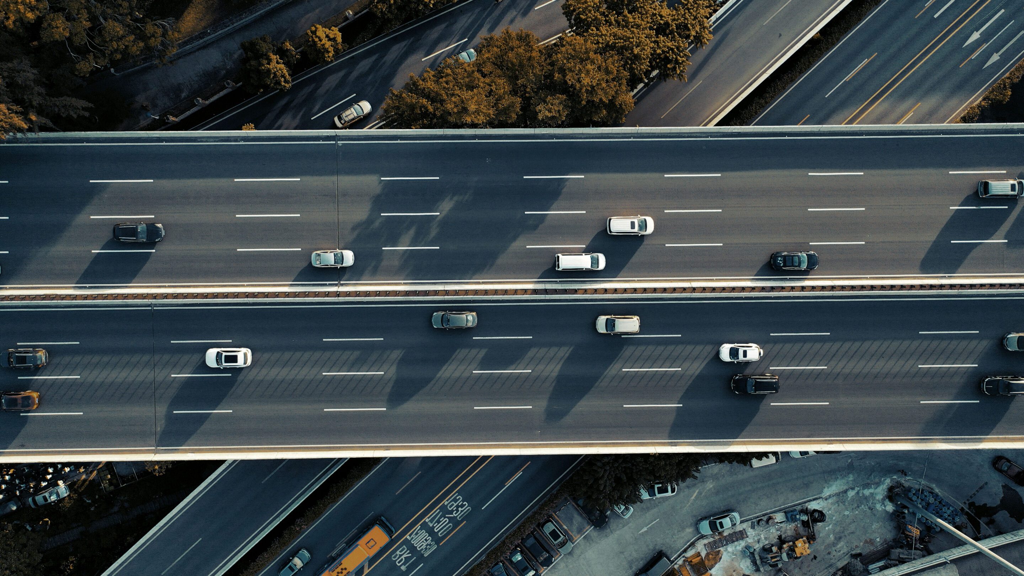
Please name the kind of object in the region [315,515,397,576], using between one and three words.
bus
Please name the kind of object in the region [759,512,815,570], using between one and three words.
work vehicle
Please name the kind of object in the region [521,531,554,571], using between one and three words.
car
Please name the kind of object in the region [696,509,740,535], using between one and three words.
car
